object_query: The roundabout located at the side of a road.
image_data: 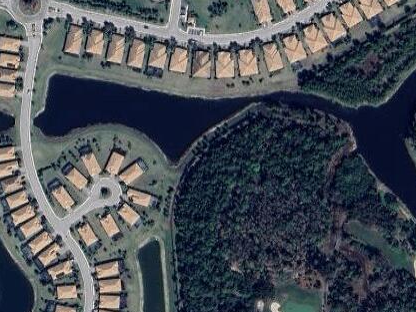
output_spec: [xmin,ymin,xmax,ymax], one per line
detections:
[10,0,50,24]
